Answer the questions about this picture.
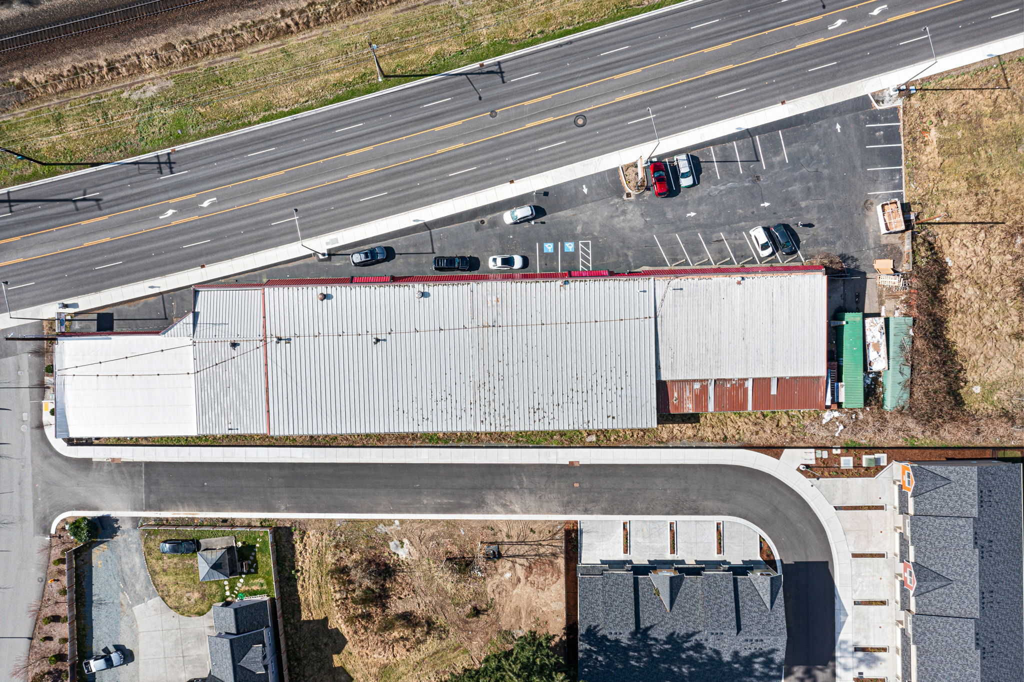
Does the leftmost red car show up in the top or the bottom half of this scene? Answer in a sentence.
The top half of the photo is where the leftmost red car is.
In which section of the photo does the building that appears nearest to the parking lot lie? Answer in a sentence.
The building that appears nearest to the parking lot appears toward the center of the photo.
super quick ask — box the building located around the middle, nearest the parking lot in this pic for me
[54,262,828,439]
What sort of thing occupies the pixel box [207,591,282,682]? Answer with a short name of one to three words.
house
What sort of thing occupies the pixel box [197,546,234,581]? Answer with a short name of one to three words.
building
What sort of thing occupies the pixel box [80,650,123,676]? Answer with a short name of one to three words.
truck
